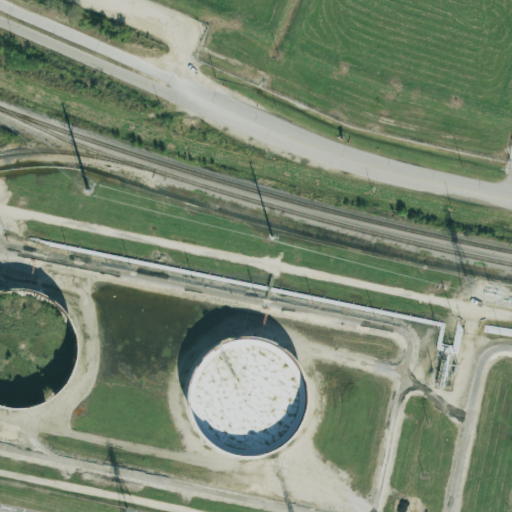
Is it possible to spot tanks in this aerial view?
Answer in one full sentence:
Yes, a tank is visible in the scene.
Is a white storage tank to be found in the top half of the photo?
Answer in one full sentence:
No, I can find no white storage tank in the top half of the photo.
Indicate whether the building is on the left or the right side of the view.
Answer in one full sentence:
The building is on the right side of the image.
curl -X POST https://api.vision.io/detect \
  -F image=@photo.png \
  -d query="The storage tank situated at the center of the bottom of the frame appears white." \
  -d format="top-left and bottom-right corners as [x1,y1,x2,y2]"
[186,336,310,461]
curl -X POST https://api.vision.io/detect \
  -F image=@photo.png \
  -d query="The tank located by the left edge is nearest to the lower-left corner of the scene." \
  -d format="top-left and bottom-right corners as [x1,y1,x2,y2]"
[0,287,79,412]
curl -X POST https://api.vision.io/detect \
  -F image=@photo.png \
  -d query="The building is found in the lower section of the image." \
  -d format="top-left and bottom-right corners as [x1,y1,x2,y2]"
[436,348,458,392]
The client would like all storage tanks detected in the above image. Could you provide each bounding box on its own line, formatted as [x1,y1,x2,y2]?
[0,287,79,412]
[186,336,310,461]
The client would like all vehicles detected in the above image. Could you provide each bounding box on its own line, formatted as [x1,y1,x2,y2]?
[470,298,482,306]
[188,64,198,75]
